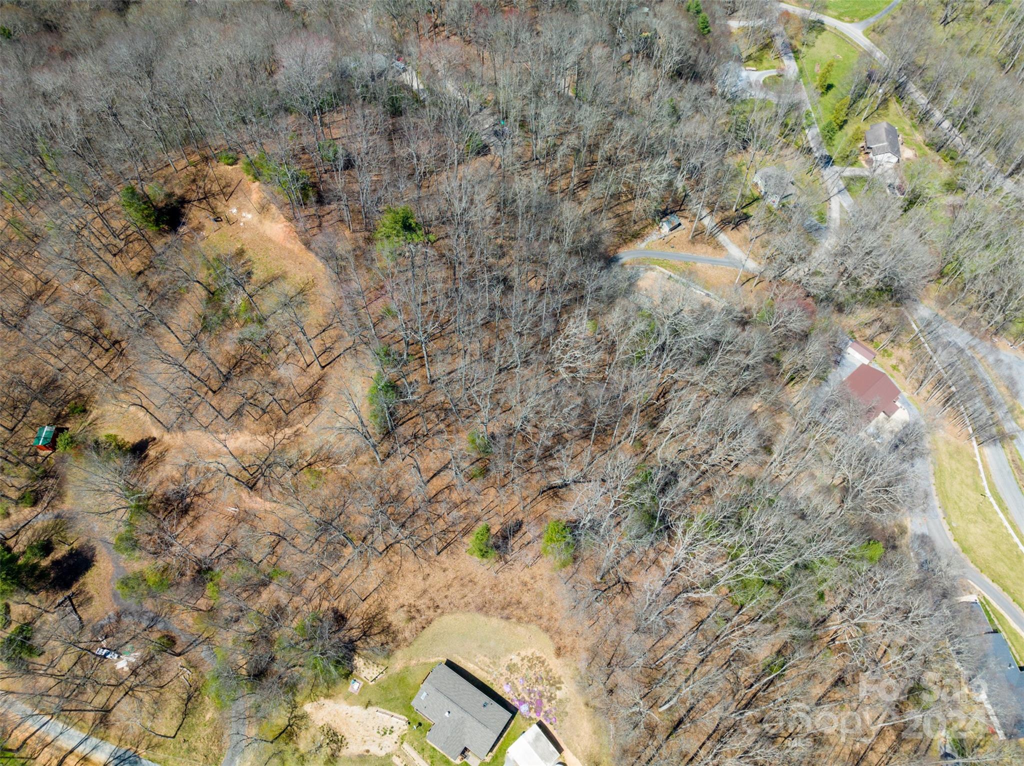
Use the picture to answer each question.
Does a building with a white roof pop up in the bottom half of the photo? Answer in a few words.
Yes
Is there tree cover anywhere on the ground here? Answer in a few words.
Yes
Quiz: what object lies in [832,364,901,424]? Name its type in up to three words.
house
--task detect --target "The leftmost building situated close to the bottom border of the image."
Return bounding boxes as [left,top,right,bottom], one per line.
[411,662,512,765]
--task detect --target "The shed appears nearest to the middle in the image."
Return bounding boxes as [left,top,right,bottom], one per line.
[660,214,683,236]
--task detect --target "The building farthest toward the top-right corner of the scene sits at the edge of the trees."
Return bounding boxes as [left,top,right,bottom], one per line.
[859,120,902,170]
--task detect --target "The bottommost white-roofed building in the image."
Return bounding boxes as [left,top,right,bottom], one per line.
[507,724,560,766]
